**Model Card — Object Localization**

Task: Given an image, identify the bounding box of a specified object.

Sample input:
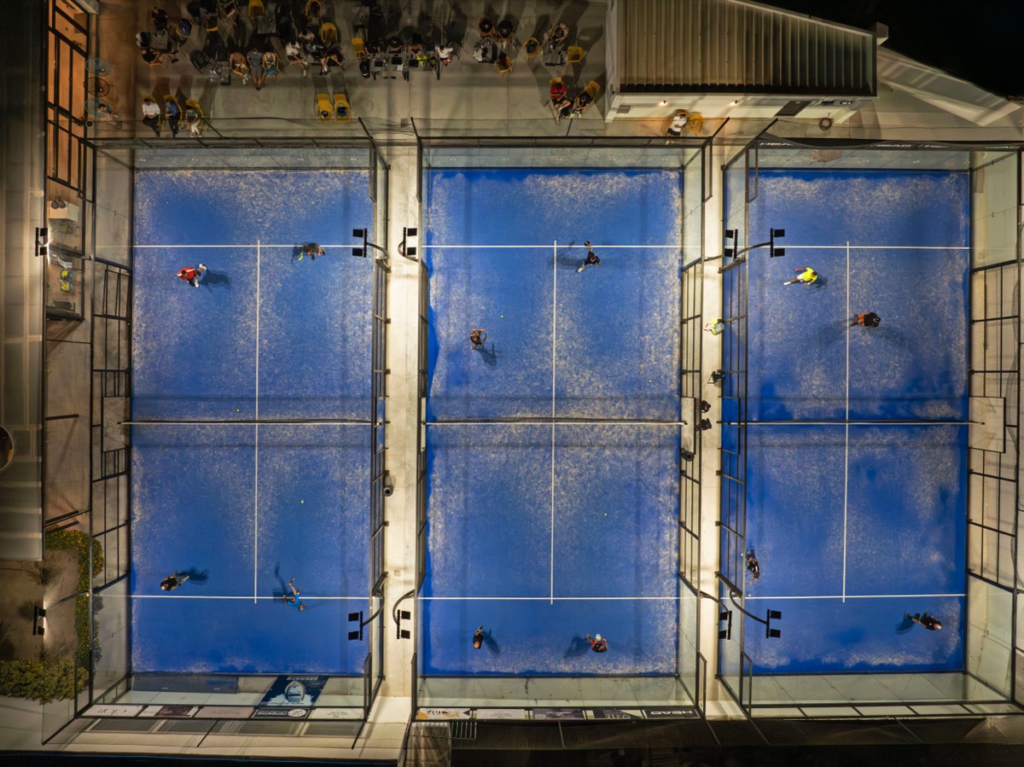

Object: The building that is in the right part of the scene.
[602,0,891,127]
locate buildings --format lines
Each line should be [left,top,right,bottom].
[602,0,891,127]
[0,0,85,564]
